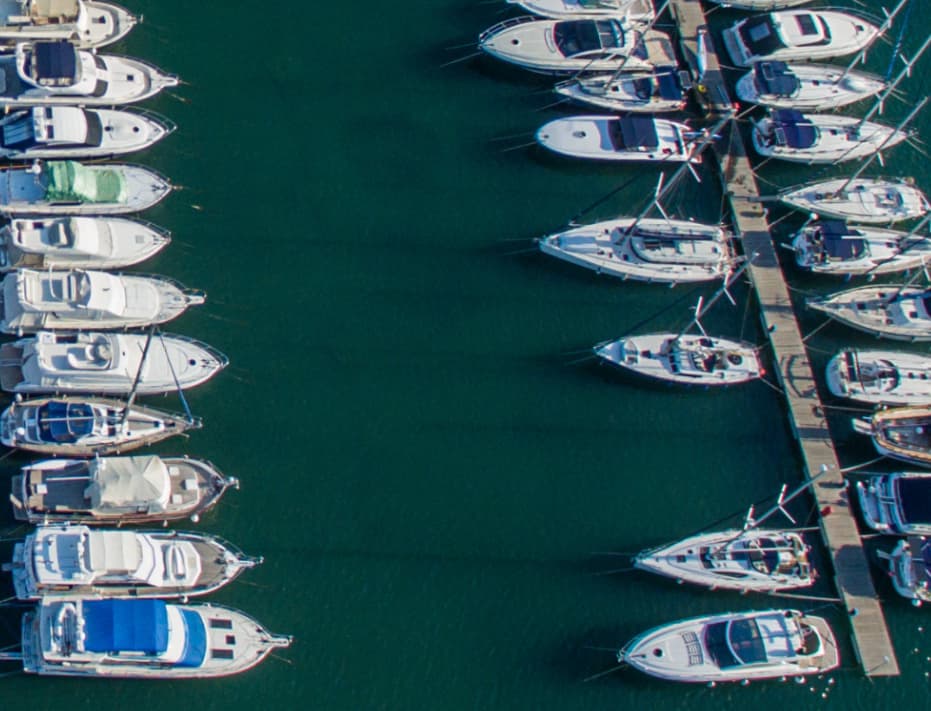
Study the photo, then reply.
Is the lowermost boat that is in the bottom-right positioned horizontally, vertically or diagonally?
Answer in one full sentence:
In this picture, the lowermost boat that is in the bottom-right is oriented horizontally.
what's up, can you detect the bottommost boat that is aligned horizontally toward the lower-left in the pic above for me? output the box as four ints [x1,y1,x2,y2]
[0,586,292,680]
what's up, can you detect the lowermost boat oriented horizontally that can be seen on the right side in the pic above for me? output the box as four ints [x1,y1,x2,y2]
[621,610,846,685]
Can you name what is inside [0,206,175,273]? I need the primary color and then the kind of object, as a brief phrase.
white boat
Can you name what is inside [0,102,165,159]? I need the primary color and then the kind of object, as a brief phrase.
white boat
